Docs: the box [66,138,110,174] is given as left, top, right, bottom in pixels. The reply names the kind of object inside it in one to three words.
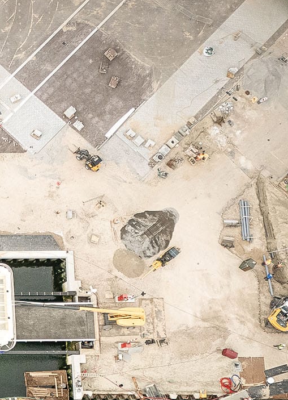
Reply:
work vehicle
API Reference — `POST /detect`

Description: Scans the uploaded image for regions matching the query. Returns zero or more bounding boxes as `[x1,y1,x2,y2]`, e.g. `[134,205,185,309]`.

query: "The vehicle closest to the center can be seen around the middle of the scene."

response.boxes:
[158,164,171,180]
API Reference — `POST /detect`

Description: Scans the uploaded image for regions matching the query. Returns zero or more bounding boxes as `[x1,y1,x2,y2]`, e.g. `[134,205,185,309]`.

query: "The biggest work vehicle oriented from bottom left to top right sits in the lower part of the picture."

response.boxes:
[137,241,192,281]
